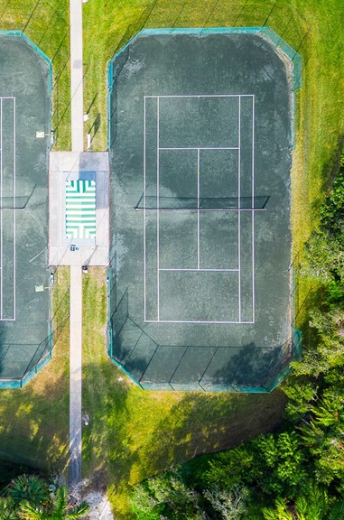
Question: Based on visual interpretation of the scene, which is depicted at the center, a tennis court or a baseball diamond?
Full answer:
There is a tennis court at the center.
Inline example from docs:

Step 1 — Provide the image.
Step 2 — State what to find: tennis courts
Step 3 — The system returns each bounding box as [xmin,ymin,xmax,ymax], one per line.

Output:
[0,36,50,380]
[104,33,292,385]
